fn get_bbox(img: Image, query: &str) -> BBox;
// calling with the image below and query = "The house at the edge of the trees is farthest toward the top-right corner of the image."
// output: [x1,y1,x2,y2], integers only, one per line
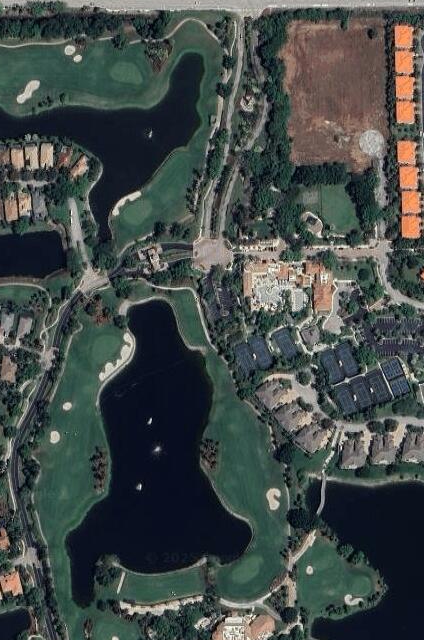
[397,24,414,47]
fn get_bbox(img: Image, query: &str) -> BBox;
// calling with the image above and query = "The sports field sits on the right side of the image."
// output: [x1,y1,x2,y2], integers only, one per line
[297,181,357,235]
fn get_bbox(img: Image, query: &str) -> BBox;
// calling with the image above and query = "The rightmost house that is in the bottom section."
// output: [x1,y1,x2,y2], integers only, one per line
[404,432,424,459]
